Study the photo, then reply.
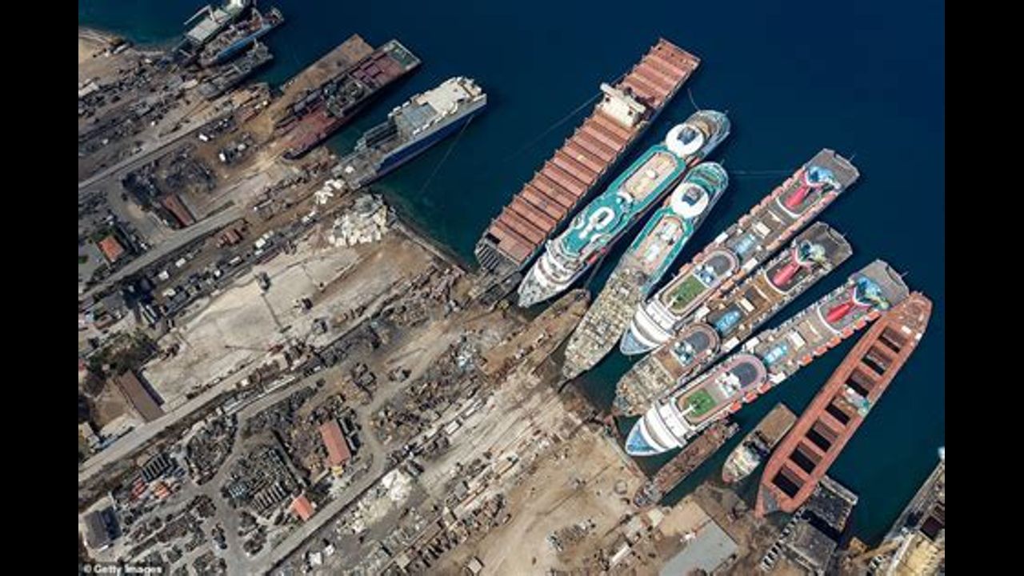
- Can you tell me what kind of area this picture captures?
port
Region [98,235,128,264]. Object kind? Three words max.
house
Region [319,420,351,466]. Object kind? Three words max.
shed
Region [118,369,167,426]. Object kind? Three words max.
building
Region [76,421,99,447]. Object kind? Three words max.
house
